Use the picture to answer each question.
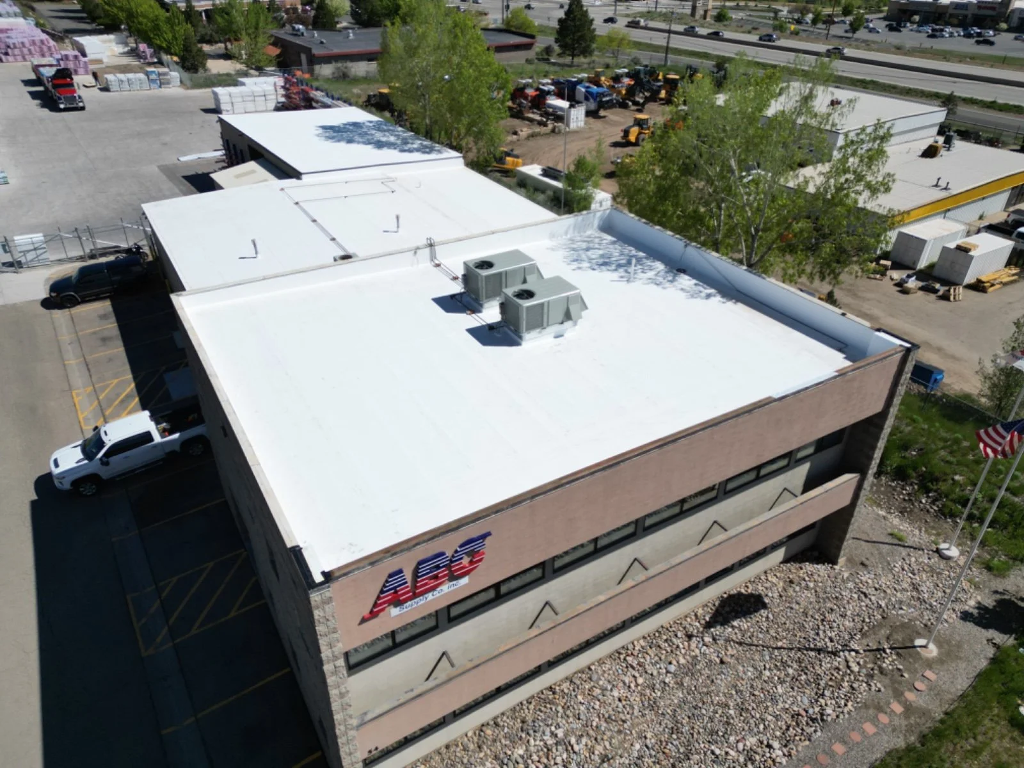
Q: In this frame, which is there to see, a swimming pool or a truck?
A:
truck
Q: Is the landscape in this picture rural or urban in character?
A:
urban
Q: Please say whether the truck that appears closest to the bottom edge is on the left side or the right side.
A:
left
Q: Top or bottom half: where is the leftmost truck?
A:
top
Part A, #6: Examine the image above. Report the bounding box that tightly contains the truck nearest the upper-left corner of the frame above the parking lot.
[41,75,84,109]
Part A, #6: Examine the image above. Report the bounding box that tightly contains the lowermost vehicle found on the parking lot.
[48,404,210,490]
